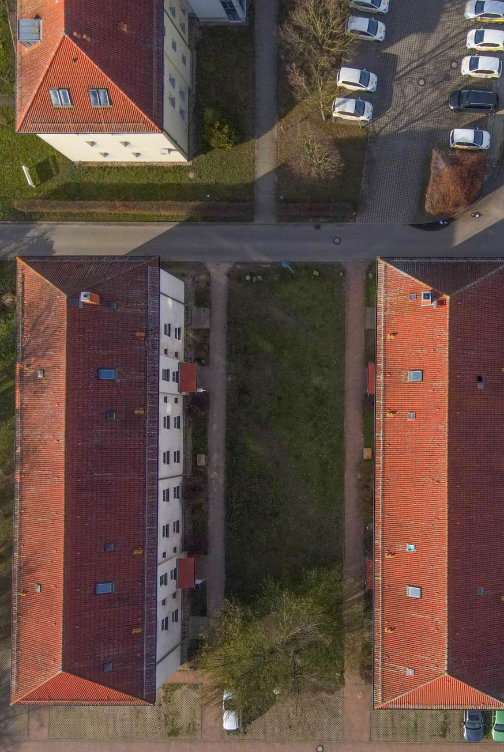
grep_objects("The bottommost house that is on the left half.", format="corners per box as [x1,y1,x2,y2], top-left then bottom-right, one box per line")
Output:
[9,255,201,707]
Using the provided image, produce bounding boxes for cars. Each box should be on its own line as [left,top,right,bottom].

[462,711,485,747]
[337,68,379,94]
[345,16,386,43]
[332,97,373,123]
[466,27,504,54]
[461,54,502,80]
[450,126,490,150]
[218,687,242,734]
[491,711,504,747]
[449,88,498,115]
[466,0,504,25]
